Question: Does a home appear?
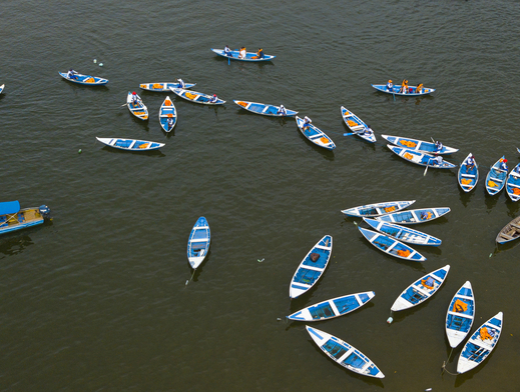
No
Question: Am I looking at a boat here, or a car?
boat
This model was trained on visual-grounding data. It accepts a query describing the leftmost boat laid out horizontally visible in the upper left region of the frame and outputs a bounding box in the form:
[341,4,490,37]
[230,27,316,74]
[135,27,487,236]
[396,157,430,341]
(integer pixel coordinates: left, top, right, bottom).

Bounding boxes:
[59,72,108,87]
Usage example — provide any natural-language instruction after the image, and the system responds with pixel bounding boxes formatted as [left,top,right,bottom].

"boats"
[341,106,376,144]
[235,100,299,118]
[341,200,416,218]
[507,163,520,204]
[127,92,150,122]
[363,217,442,248]
[486,156,509,198]
[357,227,426,264]
[158,96,179,135]
[286,292,374,323]
[458,312,502,376]
[459,155,479,194]
[0,198,56,233]
[291,235,333,300]
[306,325,384,380]
[170,88,226,107]
[445,280,475,350]
[59,72,108,87]
[495,215,520,245]
[211,49,276,62]
[97,137,166,151]
[391,265,449,314]
[188,216,211,272]
[371,84,435,96]
[387,144,456,170]
[296,117,335,151]
[381,135,459,155]
[373,208,451,225]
